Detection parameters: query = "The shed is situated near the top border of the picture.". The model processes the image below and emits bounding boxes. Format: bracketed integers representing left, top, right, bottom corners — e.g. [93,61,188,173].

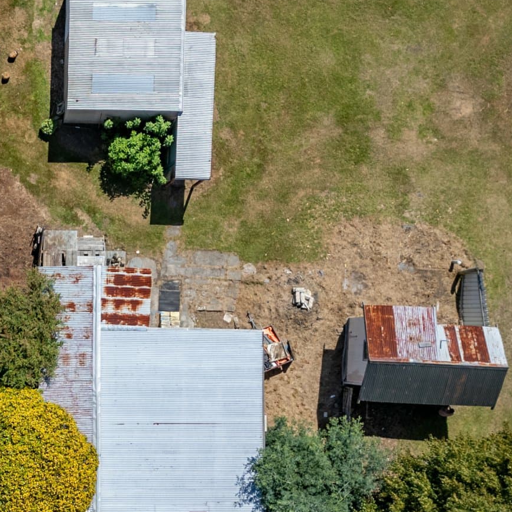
[64,0,217,183]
